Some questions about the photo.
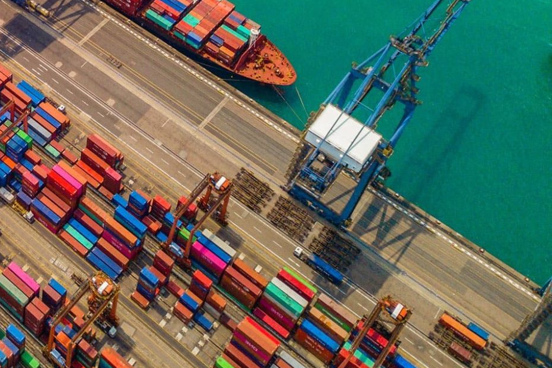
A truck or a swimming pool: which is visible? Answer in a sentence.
It is a truck that can be seen here.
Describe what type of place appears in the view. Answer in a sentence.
The area seen from above is a port.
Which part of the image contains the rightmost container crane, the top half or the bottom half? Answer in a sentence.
The rightmost container crane sits in the bottom half of the picture.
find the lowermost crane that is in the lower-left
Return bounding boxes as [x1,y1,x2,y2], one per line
[42,266,127,368]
